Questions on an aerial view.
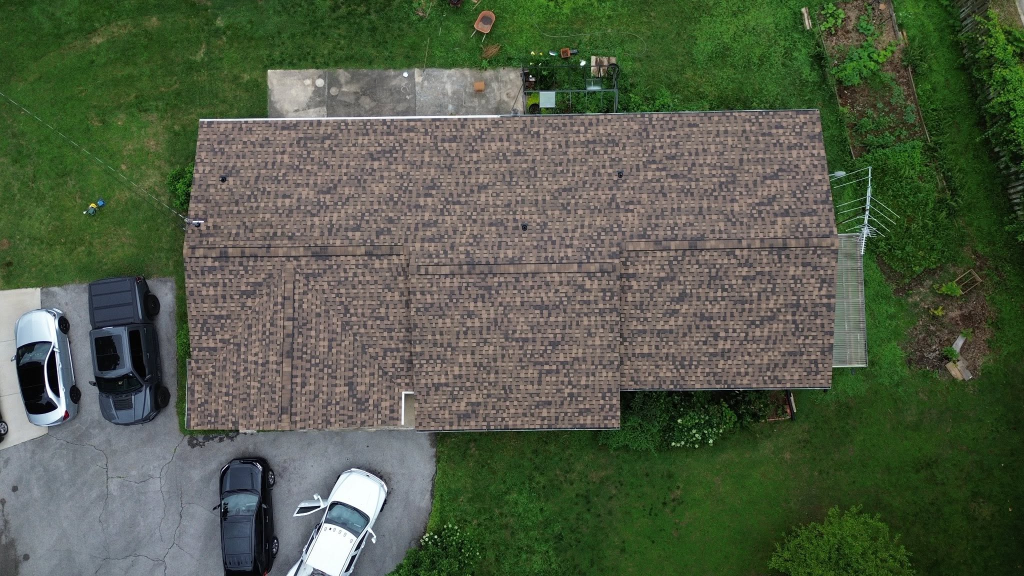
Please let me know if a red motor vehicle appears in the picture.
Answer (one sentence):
No, the scene contains no red motor vehicle.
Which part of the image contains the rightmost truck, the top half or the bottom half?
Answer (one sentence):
The rightmost truck is in the bottom half of the image.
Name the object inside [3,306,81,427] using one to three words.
car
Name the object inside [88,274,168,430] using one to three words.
truck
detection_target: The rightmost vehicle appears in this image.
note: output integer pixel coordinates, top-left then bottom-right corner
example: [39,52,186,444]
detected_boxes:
[289,466,392,576]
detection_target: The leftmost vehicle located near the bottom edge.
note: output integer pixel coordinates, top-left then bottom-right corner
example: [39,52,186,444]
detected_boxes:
[208,456,278,576]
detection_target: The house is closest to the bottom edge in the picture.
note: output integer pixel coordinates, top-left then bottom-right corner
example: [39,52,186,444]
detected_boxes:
[170,107,838,433]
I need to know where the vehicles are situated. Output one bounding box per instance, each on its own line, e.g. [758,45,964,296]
[3,306,81,427]
[0,420,7,455]
[88,274,168,430]
[208,456,278,576]
[289,466,392,576]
